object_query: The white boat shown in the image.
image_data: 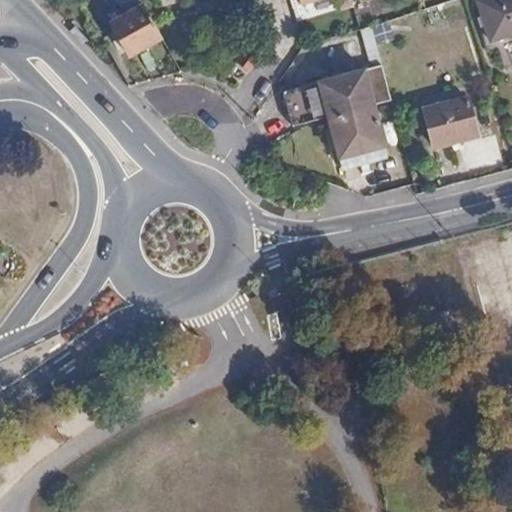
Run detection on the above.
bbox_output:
[383,120,398,148]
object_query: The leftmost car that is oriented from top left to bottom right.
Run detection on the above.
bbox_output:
[96,94,115,114]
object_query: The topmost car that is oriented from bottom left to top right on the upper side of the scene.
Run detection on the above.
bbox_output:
[254,78,272,102]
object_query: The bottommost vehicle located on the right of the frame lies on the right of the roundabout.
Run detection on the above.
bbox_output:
[368,172,390,184]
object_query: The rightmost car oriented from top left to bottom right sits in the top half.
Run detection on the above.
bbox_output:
[198,110,219,128]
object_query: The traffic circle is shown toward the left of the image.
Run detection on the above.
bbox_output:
[98,161,257,322]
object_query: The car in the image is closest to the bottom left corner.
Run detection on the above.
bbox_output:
[37,267,54,288]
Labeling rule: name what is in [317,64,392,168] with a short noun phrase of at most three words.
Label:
house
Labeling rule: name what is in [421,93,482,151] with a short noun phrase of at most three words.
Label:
house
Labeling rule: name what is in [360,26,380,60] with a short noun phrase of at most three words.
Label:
shed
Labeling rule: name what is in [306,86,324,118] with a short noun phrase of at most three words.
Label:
building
